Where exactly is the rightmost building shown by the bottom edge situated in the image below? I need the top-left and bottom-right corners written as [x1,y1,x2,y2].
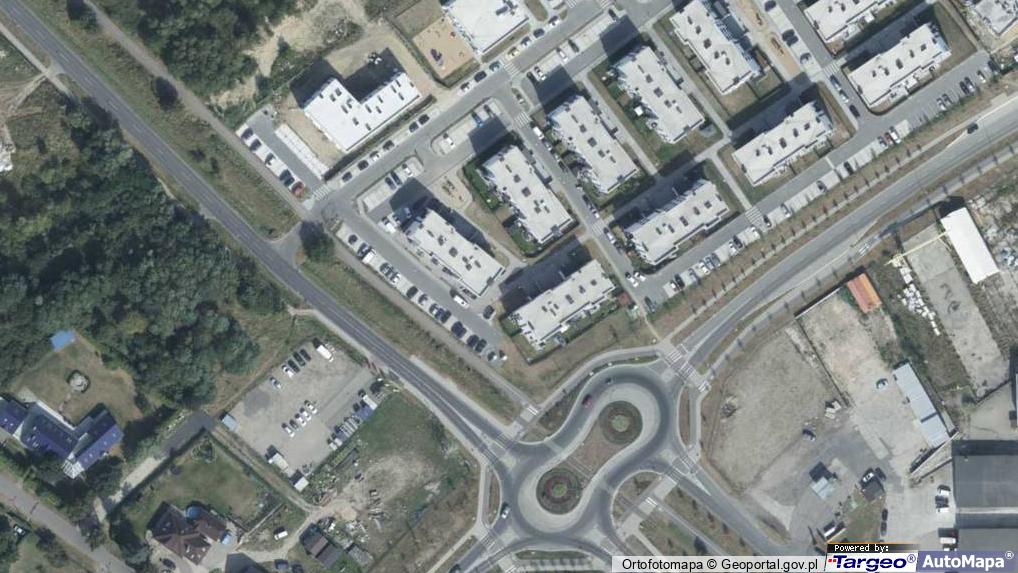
[953,440,1018,573]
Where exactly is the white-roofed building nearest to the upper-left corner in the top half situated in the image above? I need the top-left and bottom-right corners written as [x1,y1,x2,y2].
[302,70,420,151]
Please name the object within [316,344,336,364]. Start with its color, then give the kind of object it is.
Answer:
white vehicle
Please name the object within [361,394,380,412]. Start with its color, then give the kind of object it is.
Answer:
white vehicle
